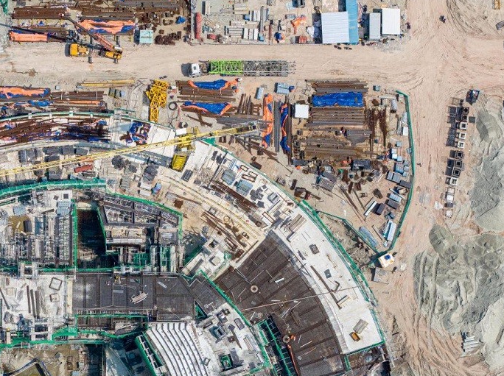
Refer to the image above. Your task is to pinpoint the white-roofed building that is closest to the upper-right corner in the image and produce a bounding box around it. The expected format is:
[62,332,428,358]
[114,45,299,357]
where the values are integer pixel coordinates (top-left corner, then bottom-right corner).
[380,9,400,38]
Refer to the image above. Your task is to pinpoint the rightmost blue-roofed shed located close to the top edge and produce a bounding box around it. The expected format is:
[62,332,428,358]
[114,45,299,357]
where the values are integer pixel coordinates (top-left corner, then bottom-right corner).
[344,0,358,46]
